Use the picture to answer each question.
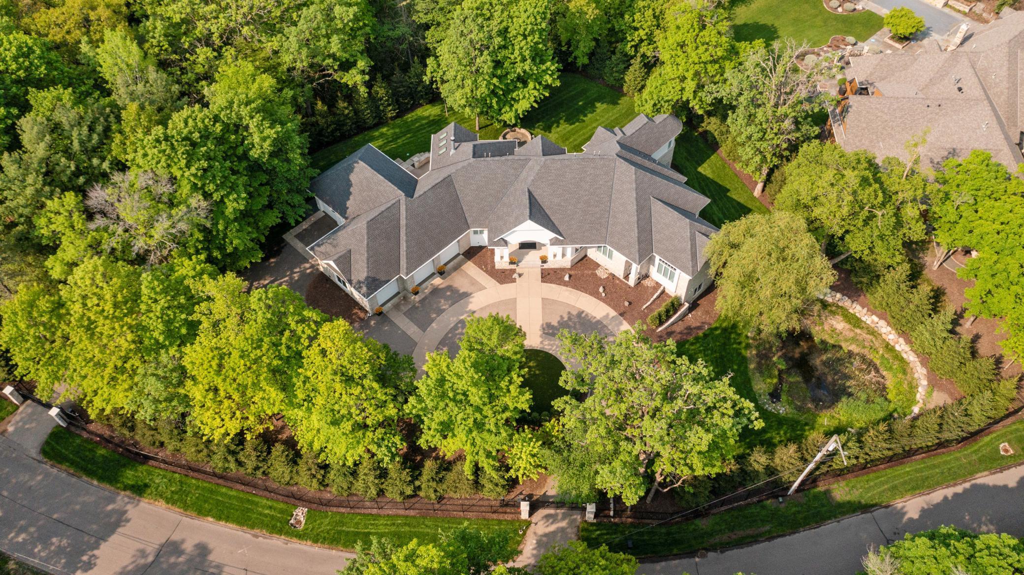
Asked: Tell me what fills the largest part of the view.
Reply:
trees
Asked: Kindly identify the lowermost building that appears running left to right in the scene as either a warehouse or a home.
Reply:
home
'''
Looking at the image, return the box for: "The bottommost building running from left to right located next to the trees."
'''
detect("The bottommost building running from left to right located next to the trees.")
[306,114,735,315]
